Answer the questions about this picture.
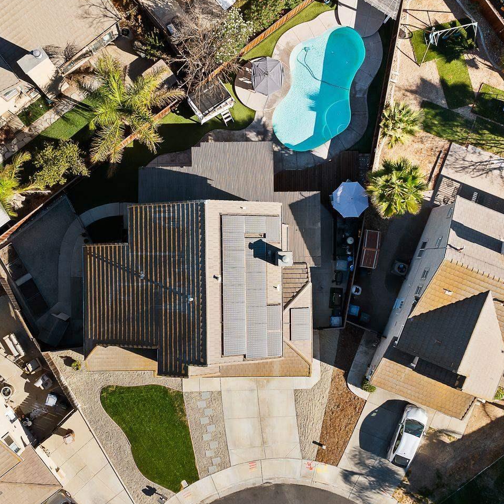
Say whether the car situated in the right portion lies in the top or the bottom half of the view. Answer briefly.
bottom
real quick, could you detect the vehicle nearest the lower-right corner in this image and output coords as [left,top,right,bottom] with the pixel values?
[387,404,427,468]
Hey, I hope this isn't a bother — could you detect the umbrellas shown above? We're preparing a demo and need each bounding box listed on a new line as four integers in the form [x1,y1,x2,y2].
[331,182,366,218]
[247,59,285,94]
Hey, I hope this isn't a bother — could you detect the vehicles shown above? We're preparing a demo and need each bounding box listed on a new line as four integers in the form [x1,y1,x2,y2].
[387,404,427,468]
[46,490,76,504]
